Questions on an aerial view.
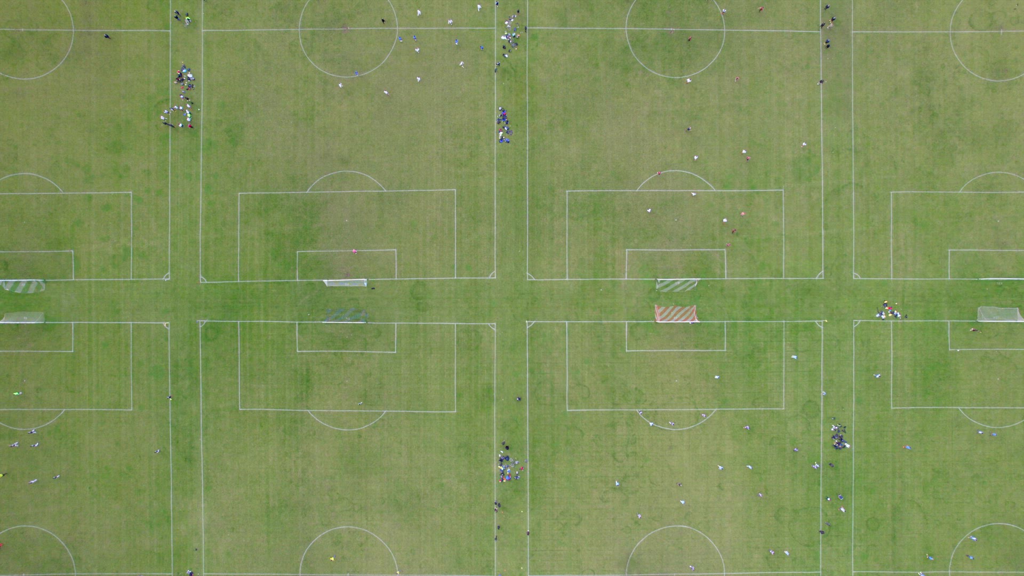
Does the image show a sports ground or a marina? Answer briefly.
sports ground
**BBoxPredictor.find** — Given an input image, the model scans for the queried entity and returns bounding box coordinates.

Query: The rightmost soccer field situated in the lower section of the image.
[852,316,1024,576]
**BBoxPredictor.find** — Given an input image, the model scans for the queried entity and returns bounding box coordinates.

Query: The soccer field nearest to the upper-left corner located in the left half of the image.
[0,0,171,281]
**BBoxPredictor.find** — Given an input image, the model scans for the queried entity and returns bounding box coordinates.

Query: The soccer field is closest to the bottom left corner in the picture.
[0,318,172,576]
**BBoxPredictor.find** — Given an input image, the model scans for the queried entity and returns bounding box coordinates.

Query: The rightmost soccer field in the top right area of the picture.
[852,0,1024,279]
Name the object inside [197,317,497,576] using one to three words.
soccer field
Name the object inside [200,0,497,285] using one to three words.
soccer field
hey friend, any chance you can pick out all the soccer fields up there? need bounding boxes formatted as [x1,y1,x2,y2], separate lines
[197,317,497,576]
[0,0,171,281]
[0,318,172,576]
[852,0,1024,279]
[852,316,1024,576]
[200,0,497,285]
[527,318,823,576]
[526,0,824,284]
